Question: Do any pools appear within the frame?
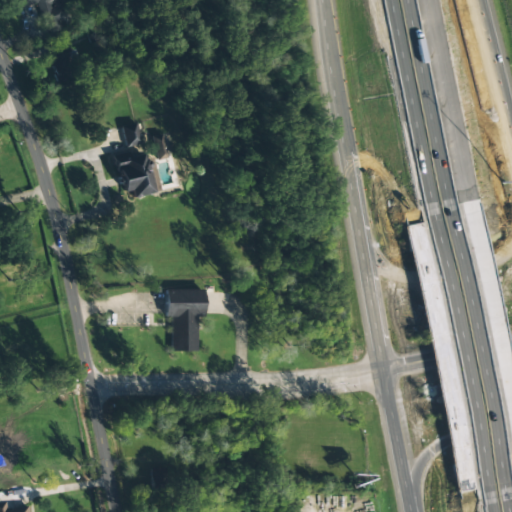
Yes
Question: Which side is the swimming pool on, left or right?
left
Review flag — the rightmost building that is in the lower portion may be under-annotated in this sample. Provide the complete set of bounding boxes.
[168,290,209,350]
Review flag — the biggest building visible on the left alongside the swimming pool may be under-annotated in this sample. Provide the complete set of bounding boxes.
[115,153,157,194]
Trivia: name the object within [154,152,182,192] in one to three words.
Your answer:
swimming pool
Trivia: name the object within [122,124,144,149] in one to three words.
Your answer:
building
